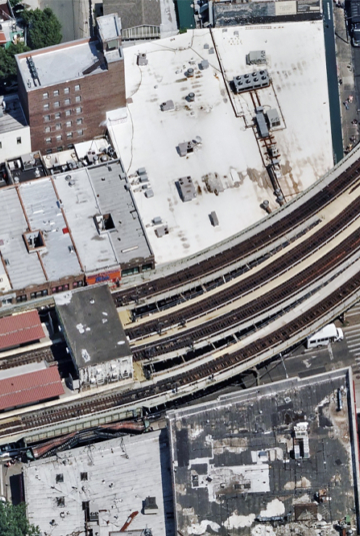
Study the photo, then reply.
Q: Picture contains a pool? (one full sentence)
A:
No, the scene contains no pool.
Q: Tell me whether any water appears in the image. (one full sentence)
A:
No, the picture contains no water.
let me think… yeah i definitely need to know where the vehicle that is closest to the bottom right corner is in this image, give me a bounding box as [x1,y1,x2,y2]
[306,327,347,353]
